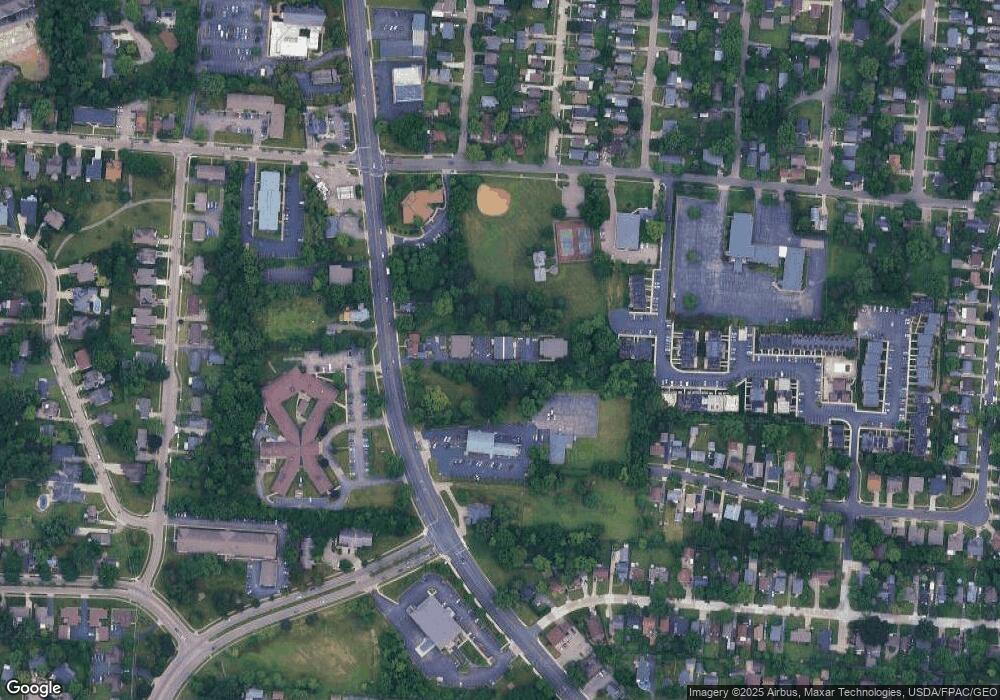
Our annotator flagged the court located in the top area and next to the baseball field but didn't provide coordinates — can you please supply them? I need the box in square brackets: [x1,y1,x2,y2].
[554,220,594,262]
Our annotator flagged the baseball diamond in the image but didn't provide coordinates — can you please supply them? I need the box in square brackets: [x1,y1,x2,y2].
[464,176,561,299]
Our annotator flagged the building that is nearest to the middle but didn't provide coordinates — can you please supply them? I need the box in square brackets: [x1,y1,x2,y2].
[494,337,514,359]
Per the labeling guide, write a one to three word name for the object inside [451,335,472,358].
building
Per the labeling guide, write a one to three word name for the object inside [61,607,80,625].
house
